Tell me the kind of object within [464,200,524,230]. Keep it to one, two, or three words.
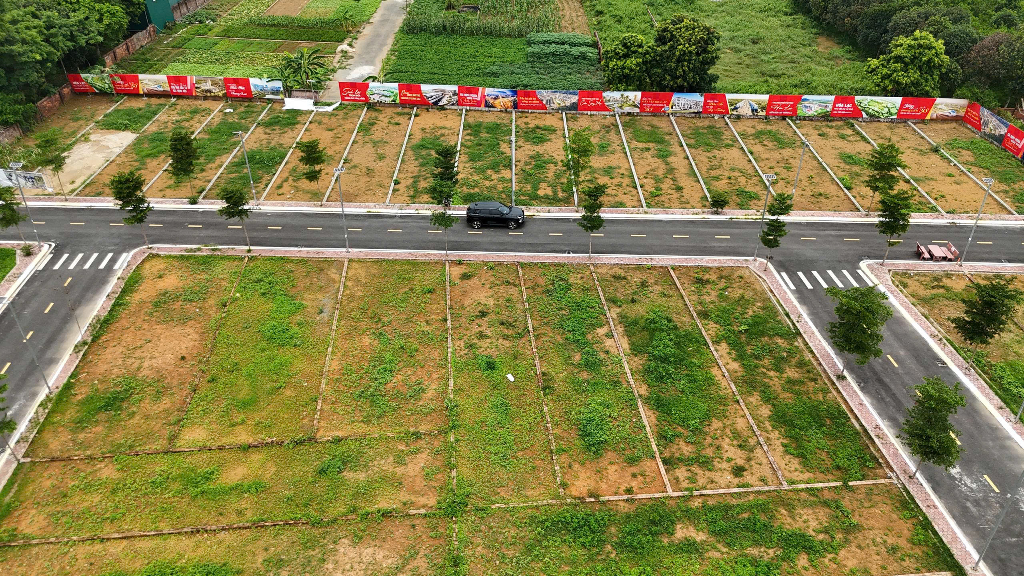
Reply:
car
